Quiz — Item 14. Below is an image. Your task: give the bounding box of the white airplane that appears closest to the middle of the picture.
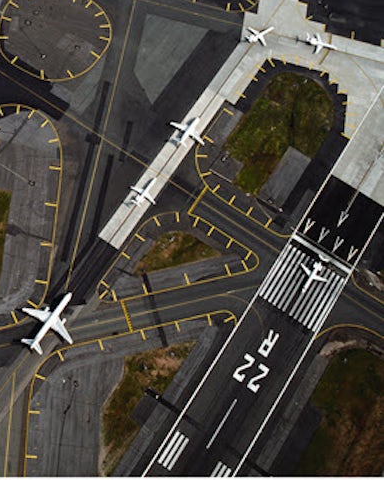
[131,178,157,207]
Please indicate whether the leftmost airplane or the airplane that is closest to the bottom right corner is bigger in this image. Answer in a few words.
the leftmost airplane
